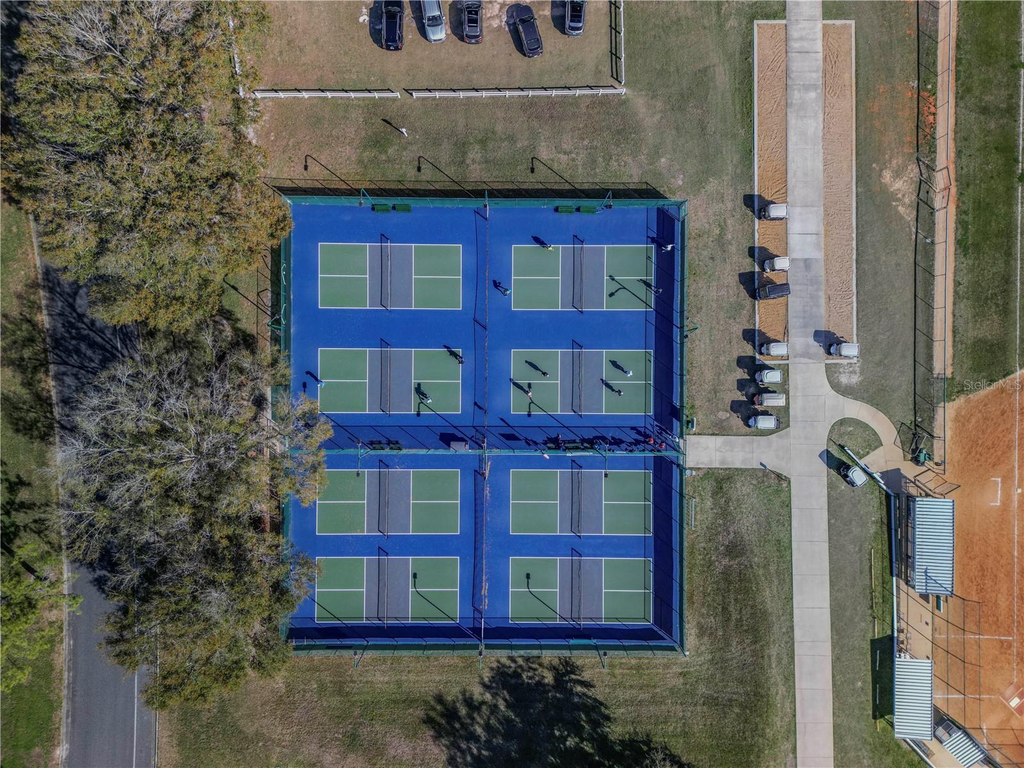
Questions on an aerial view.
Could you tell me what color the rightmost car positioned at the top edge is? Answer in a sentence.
In this view, the rightmost car positioned at the top edge is black.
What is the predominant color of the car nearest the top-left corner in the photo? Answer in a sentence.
The color of the car nearest the top-left corner is black.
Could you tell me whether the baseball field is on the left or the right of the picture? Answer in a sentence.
The baseball field appears in the right half of the scene.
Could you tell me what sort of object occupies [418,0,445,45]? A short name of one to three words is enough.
car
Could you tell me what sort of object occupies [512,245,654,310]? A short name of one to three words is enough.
sports court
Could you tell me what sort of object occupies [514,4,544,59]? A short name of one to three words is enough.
car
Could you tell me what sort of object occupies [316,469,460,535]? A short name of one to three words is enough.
sports court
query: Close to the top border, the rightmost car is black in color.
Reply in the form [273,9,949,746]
[563,0,588,38]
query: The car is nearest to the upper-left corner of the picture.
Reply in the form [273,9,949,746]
[380,0,405,52]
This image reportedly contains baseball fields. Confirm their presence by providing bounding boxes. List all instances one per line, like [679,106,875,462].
[933,0,1024,768]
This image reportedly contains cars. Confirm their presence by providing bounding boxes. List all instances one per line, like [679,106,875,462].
[514,4,544,59]
[380,0,405,52]
[563,0,588,38]
[418,0,445,45]
[461,0,486,45]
